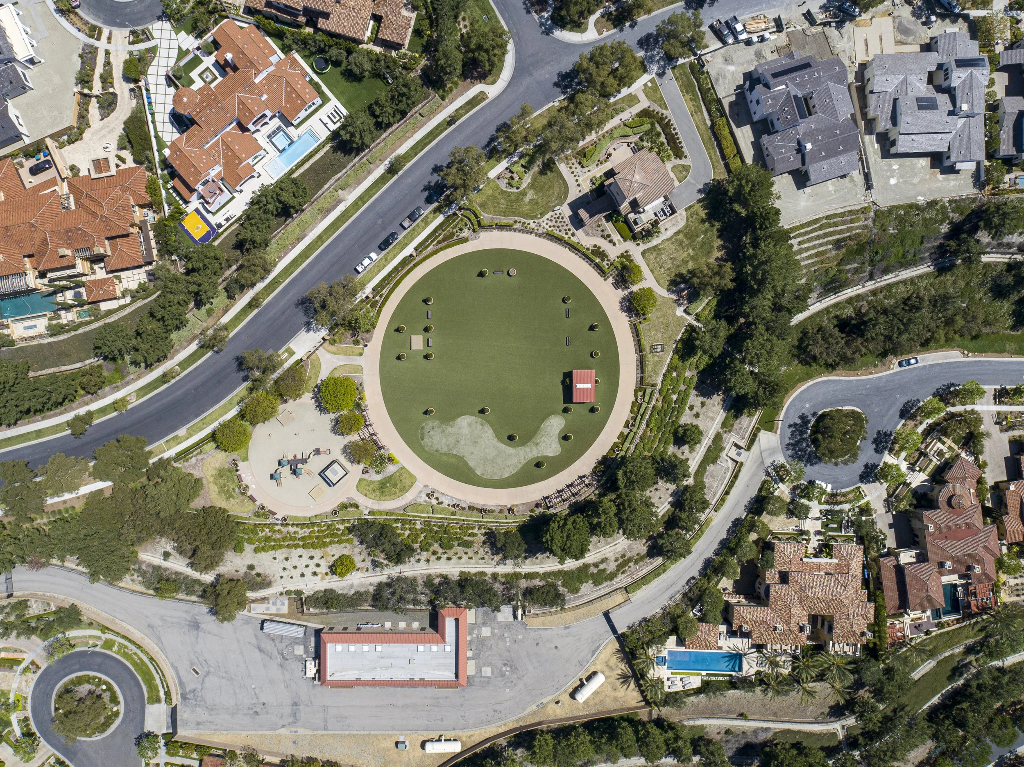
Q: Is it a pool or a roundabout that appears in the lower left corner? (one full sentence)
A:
You can see a roundabout in the lower left corner.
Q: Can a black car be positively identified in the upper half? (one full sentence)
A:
Yes, a black car appears in the upper half.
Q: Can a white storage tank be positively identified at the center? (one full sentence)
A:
No, at the center there is no white storage tank.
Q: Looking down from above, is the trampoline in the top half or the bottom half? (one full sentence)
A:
Seen from above, the trampoline lies in the top half of the view.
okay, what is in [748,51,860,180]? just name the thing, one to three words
house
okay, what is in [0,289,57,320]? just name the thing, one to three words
swimming pool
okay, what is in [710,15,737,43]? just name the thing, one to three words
truck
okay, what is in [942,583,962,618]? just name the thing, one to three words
swimming pool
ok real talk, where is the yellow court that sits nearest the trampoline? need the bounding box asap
[178,207,219,245]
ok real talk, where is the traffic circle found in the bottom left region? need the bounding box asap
[50,671,124,741]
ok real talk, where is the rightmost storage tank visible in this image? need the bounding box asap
[573,670,608,706]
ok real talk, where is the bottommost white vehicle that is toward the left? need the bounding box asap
[353,250,378,273]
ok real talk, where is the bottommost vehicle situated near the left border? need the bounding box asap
[25,156,52,174]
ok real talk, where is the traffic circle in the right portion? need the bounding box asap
[809,405,868,463]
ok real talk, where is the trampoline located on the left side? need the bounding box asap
[310,51,331,71]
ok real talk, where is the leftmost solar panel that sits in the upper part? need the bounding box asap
[771,62,812,77]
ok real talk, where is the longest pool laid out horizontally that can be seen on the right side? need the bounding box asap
[666,650,744,674]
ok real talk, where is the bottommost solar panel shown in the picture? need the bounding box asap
[916,97,938,109]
